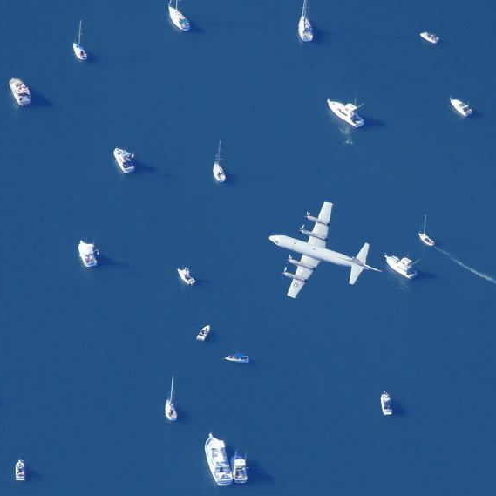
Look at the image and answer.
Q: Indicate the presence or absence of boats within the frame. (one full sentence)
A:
Yes, the picture does show a boat.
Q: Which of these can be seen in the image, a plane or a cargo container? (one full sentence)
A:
Visible in the photo is a plane.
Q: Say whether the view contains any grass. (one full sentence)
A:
No, there's no grass in this view.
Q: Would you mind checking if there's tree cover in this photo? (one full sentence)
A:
No, no tree cover is visible.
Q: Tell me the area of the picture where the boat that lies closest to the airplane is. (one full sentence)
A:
The boat that lies closest to the airplane is in the right part of the image.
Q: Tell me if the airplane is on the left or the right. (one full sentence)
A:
The airplane appears in the right half of the scene.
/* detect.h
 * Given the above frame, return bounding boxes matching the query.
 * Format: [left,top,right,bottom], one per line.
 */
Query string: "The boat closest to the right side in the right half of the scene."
[450,99,472,118]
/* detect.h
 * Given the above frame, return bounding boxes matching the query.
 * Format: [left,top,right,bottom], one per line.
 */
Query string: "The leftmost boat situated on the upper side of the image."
[10,77,32,107]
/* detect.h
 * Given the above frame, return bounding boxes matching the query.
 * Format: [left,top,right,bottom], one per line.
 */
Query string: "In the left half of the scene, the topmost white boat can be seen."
[169,0,191,32]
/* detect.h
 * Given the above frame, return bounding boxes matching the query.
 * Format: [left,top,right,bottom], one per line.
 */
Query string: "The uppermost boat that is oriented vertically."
[299,0,313,42]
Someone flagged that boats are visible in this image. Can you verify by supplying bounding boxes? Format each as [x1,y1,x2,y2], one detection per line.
[450,99,472,118]
[196,326,211,342]
[385,254,418,280]
[227,453,253,486]
[419,217,436,246]
[299,0,313,42]
[326,96,366,129]
[74,36,88,60]
[206,434,233,488]
[10,77,32,107]
[169,0,191,32]
[382,393,393,417]
[165,376,178,421]
[420,34,441,44]
[15,460,25,483]
[79,239,100,268]
[114,148,136,175]
[178,268,196,285]
[226,354,251,363]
